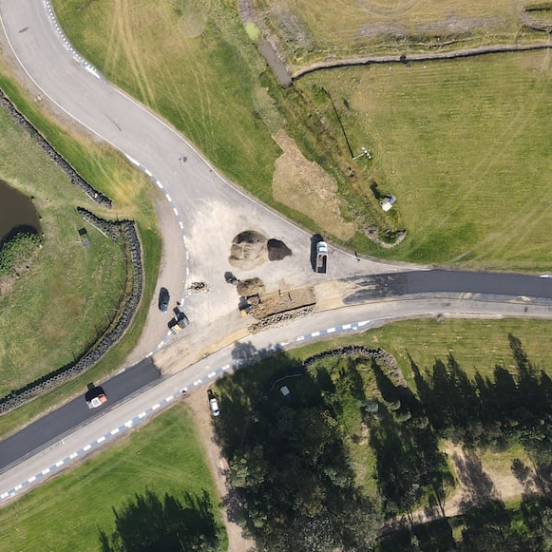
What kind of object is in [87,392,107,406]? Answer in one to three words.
work vehicle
